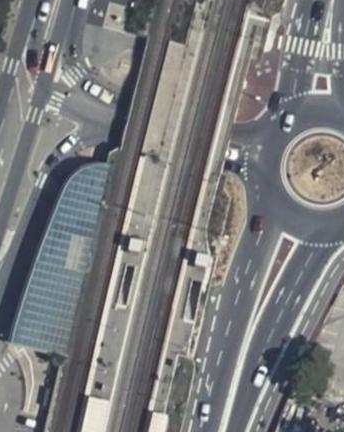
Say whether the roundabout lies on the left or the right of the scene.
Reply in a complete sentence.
It is on the right.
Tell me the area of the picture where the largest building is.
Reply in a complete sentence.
The largest building is located in the left region of the scene.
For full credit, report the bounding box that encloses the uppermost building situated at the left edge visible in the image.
[10,160,108,354]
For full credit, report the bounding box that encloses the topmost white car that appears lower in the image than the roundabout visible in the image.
[254,366,269,388]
